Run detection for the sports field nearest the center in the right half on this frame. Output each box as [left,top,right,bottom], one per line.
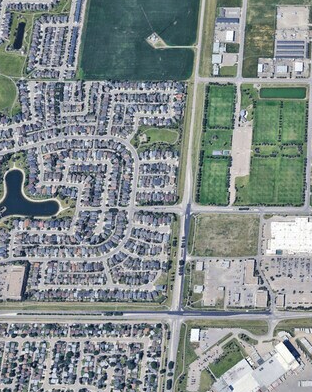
[199,161,229,203]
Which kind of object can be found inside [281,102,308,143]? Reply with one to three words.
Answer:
sports field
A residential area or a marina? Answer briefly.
residential area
